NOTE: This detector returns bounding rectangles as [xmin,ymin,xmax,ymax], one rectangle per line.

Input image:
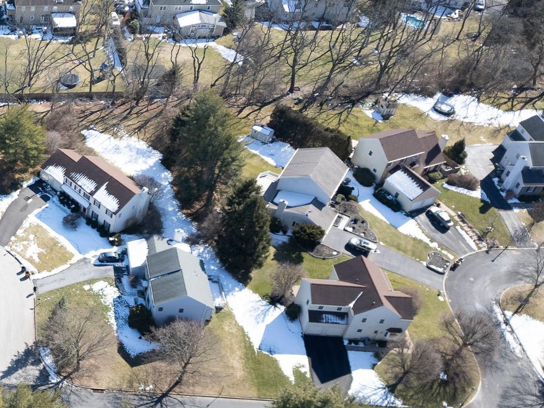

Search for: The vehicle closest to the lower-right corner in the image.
[429,206,453,229]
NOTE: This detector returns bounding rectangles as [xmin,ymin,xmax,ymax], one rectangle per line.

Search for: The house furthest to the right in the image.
[476,110,544,195]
